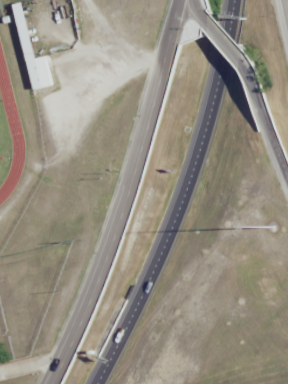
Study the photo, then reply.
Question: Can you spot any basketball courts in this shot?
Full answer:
No, no basketball court is visible in the scene.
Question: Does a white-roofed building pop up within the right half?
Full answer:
No, no white-roofed building is visible within the right half.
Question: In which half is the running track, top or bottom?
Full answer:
It is in the top half that the running track appears.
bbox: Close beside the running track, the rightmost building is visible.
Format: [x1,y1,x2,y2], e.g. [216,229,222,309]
[12,2,55,89]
